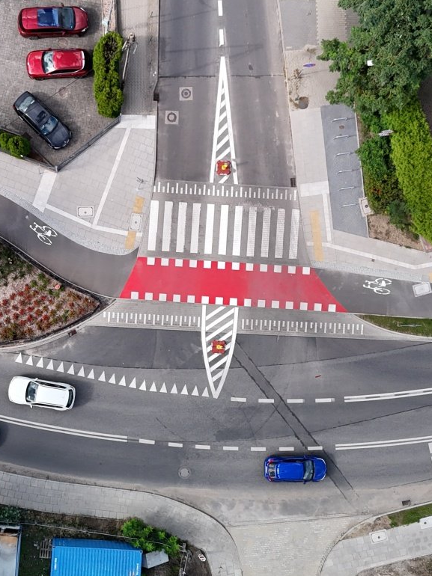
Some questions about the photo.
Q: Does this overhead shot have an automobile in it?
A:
Yes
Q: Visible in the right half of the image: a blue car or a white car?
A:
blue car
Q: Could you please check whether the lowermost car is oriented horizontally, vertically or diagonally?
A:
horizontally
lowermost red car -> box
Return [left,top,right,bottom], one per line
[25,44,90,82]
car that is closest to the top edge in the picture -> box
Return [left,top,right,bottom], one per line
[18,2,88,40]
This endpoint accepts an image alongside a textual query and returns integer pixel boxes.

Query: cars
[18,2,88,40]
[262,452,327,486]
[7,374,77,410]
[25,44,90,82]
[11,86,74,153]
